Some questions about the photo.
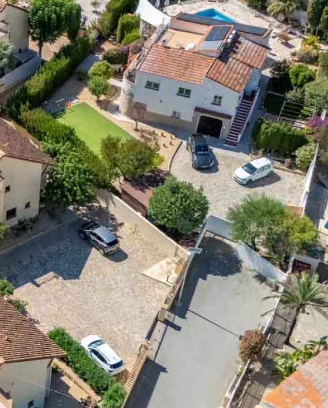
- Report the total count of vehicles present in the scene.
4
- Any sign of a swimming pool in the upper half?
Yes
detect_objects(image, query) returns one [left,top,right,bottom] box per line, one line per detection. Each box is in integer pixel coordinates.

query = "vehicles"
[232,156,278,185]
[74,331,131,380]
[187,134,216,170]
[75,220,125,256]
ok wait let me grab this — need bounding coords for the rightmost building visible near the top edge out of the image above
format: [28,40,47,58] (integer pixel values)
[131,12,269,136]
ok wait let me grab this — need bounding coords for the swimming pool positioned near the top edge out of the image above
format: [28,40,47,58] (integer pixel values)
[190,5,252,39]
